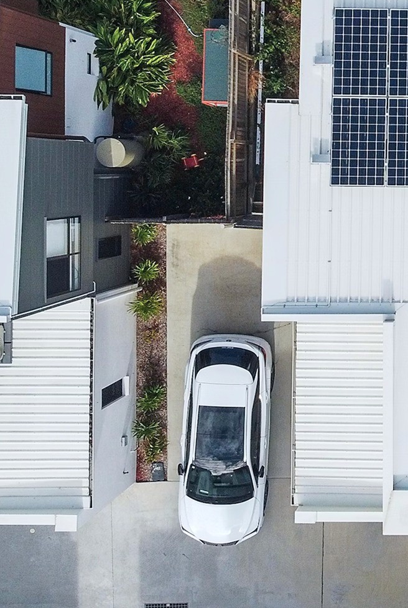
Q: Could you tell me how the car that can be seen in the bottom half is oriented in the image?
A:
vertically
